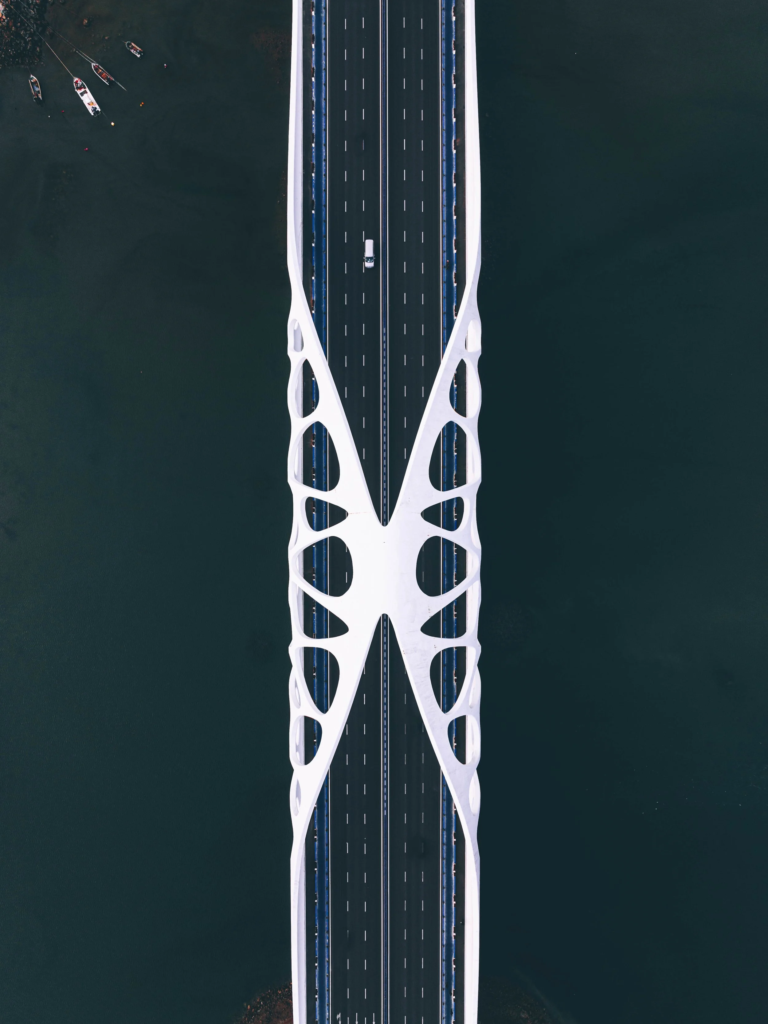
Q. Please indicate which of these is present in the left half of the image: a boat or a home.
boat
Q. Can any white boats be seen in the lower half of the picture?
No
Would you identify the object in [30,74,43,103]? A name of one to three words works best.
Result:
boat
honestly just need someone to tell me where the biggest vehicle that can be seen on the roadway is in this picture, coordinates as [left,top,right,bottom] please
[363,239,376,268]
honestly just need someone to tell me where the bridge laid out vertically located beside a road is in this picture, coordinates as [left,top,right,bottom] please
[287,0,482,1024]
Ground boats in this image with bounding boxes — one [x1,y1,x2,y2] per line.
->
[92,63,114,86]
[30,74,43,103]
[72,76,102,120]
[125,40,144,61]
